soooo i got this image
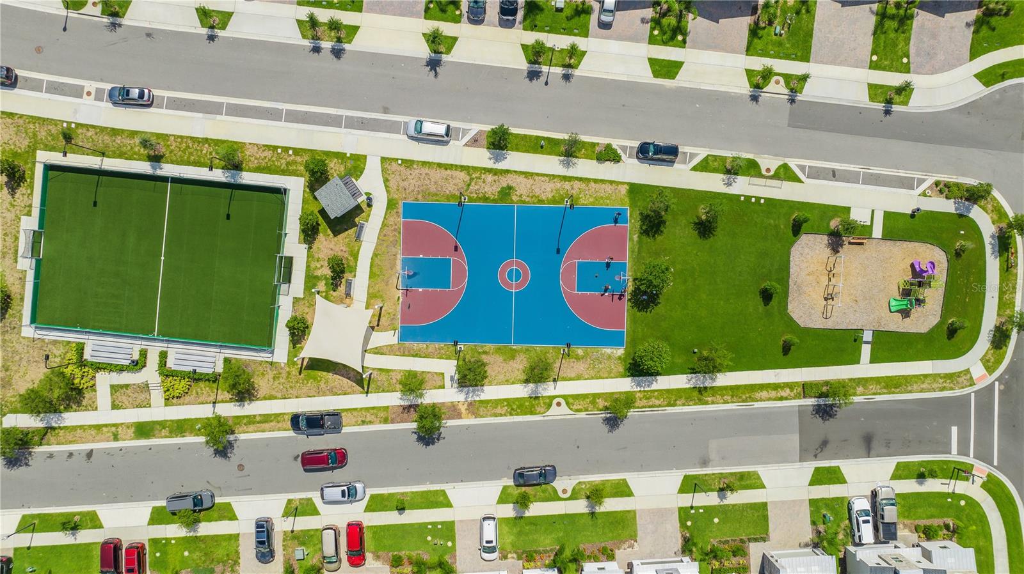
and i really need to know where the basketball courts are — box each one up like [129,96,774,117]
[399,201,629,349]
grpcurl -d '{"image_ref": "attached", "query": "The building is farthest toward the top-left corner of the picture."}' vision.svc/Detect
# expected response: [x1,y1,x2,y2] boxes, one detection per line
[314,175,366,219]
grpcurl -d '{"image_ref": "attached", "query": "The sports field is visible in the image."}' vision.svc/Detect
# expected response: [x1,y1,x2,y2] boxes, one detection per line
[31,165,292,347]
